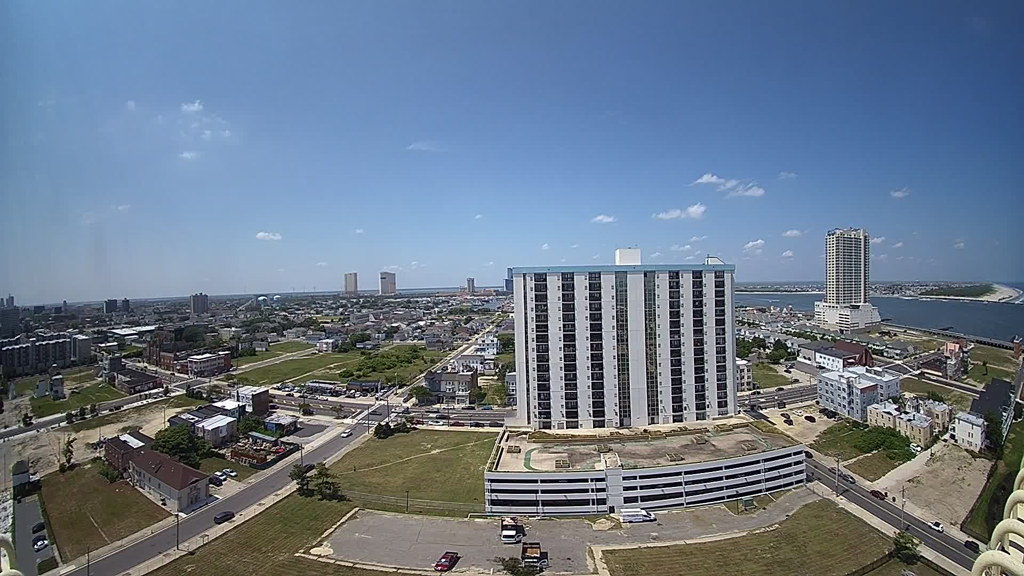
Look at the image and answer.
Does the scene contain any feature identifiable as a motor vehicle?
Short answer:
Yes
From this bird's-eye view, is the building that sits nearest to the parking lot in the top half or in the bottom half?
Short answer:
bottom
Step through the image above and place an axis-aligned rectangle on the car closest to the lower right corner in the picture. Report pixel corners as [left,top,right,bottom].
[959,535,985,550]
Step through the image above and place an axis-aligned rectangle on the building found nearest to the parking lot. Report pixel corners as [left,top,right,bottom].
[484,416,805,516]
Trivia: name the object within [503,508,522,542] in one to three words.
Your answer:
vehicle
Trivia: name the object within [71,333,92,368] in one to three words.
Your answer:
building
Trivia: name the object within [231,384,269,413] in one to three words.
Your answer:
house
